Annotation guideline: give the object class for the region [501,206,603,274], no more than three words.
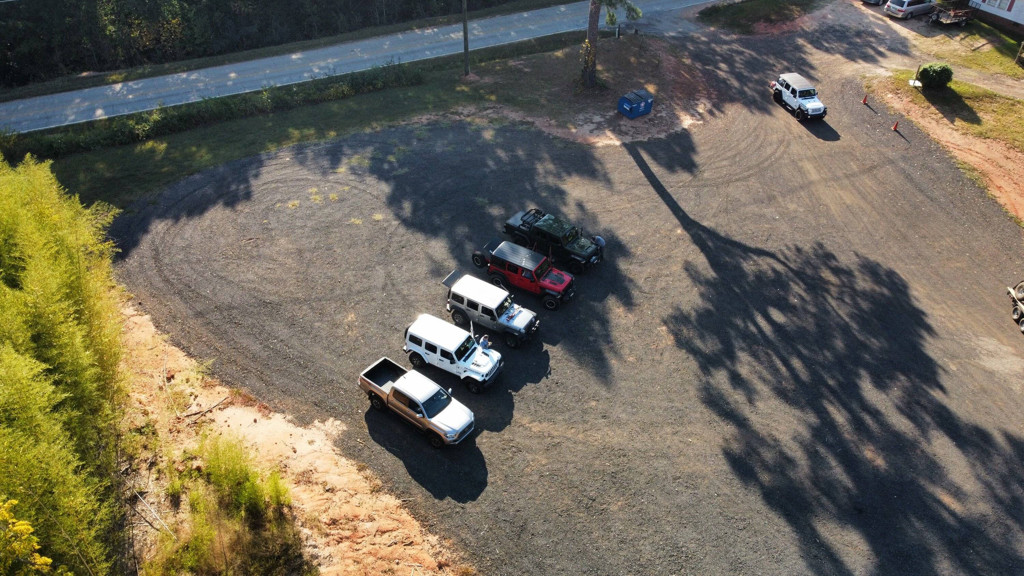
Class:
truck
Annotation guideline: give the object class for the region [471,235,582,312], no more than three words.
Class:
car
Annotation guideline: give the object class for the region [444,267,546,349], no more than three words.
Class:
car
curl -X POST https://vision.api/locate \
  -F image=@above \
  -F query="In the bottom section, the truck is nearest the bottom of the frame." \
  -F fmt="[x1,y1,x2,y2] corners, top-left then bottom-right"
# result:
[354,353,482,451]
